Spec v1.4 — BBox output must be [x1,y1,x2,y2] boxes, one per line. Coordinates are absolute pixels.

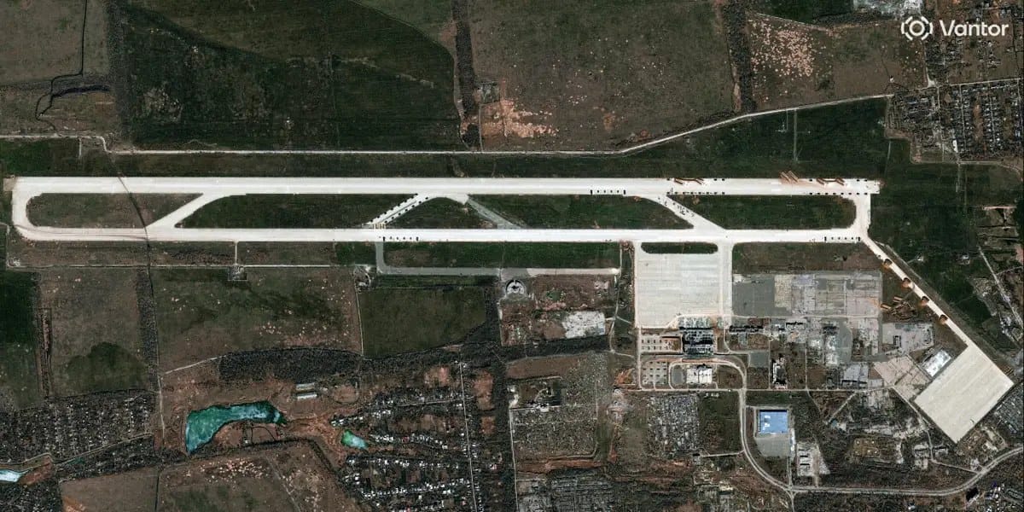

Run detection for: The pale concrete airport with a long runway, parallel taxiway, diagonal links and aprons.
[3,176,1014,443]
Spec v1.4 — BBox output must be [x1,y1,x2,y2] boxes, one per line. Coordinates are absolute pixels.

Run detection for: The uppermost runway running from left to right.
[13,176,880,194]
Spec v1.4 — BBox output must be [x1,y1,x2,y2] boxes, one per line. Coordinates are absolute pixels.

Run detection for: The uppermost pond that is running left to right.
[186,400,286,455]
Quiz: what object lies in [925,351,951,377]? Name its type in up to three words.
building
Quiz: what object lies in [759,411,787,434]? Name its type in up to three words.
building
